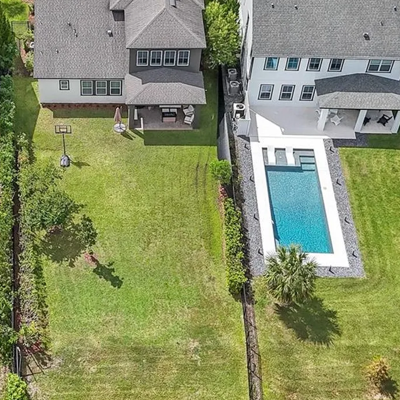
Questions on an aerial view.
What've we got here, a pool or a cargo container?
pool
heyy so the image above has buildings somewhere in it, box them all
[237,0,400,133]
[31,0,208,129]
